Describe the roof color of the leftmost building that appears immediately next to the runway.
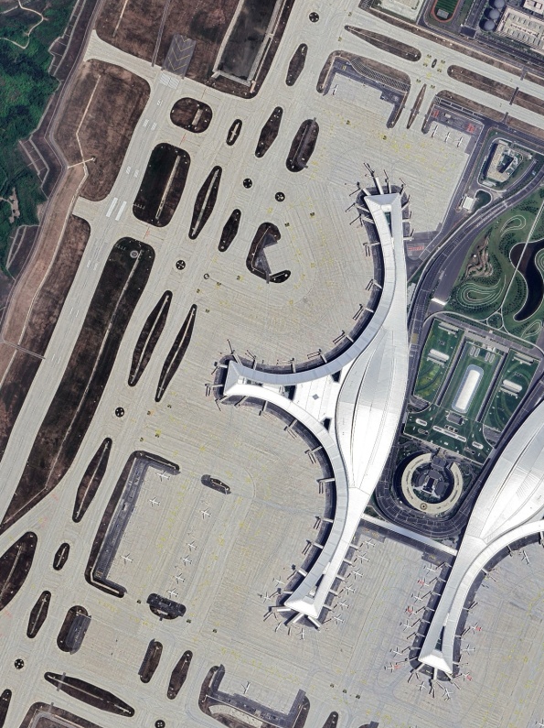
white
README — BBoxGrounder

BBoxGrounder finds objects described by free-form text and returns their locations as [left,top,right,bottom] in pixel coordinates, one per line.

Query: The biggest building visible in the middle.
[208,162,414,635]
